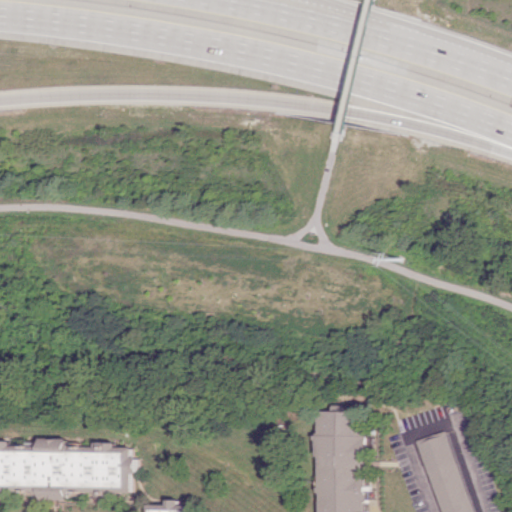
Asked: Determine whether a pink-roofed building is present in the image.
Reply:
No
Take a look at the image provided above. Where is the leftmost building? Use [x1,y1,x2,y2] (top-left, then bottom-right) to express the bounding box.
[0,438,147,500]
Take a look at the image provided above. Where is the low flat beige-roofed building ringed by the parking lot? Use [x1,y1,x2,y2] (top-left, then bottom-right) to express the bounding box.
[416,432,477,512]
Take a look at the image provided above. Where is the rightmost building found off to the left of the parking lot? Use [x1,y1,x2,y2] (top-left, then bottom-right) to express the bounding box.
[310,406,378,512]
